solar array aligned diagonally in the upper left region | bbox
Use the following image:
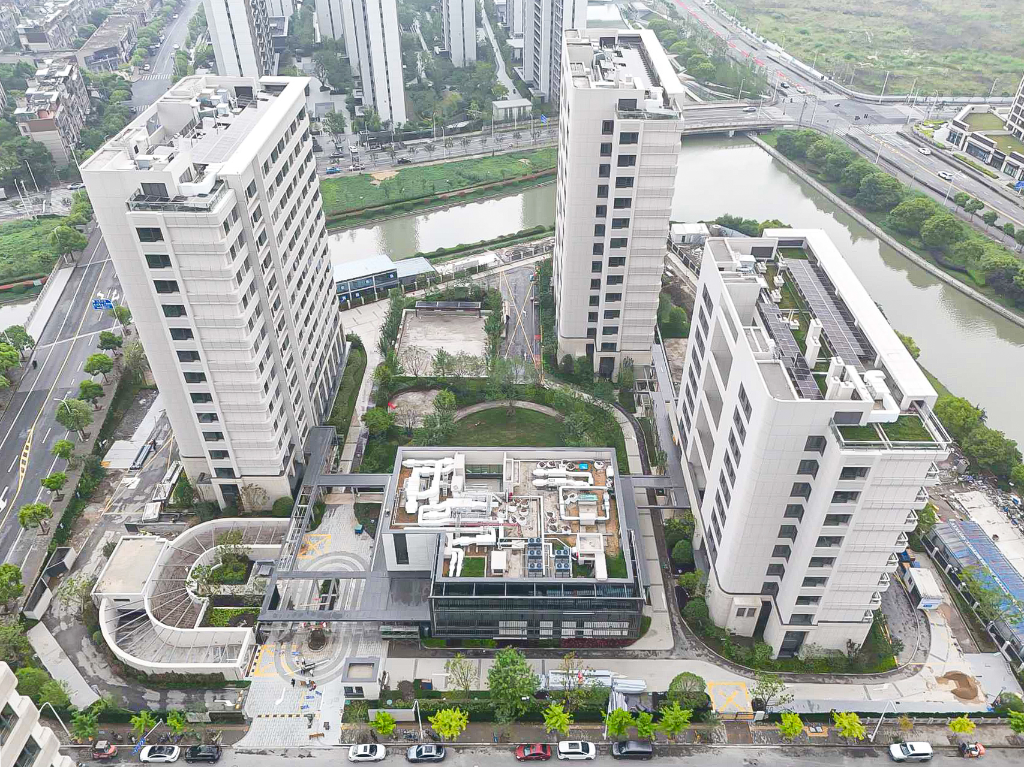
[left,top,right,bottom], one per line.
[190,99,273,162]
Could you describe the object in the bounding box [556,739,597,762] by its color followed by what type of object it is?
white car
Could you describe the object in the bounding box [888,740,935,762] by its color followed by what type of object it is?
white car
